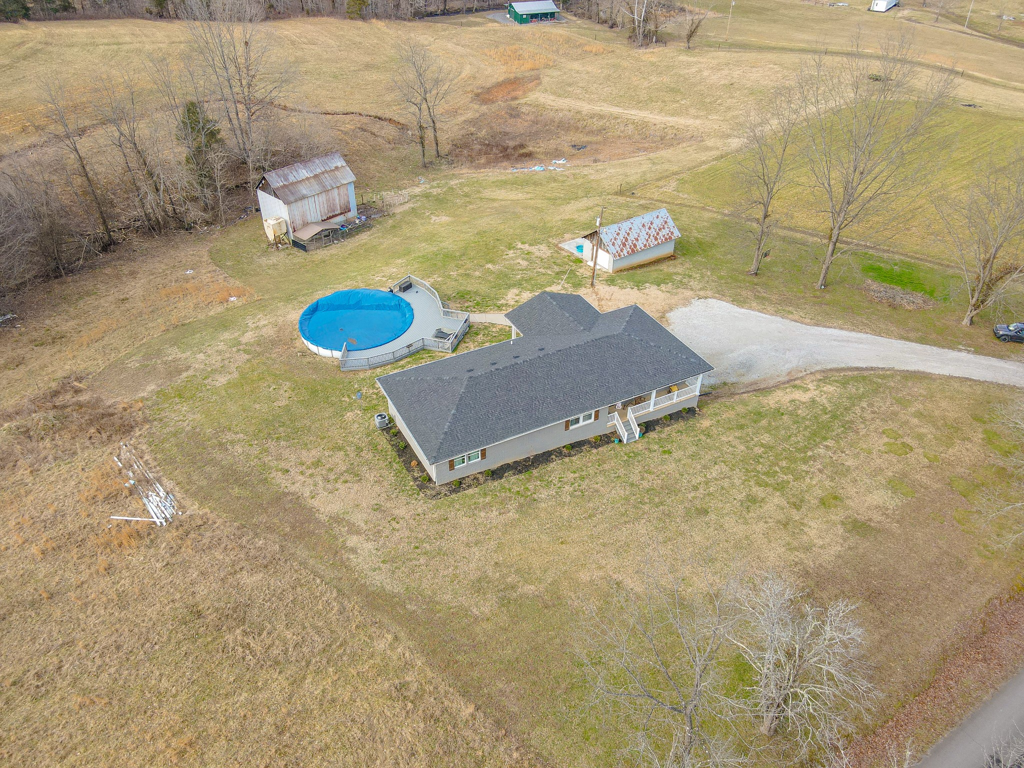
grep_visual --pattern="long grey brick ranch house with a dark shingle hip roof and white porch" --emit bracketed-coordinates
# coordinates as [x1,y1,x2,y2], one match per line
[377,292,716,484]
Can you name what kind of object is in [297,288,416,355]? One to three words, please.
swimming pool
